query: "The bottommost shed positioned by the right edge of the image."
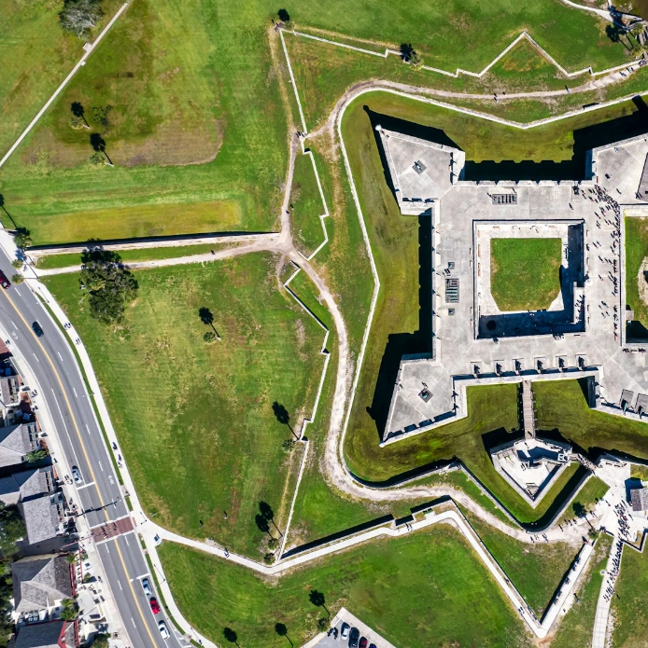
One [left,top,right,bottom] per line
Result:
[630,487,648,511]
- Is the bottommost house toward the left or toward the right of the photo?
left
